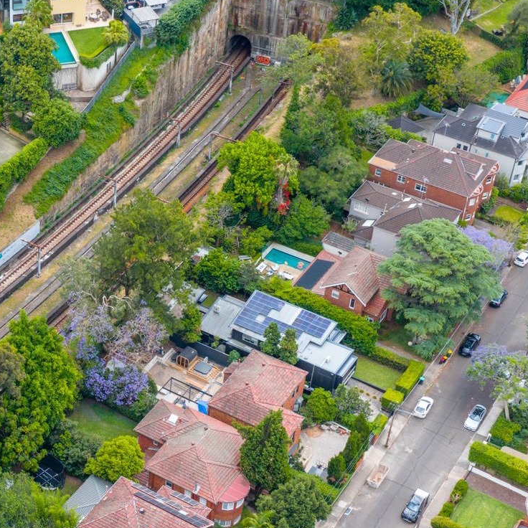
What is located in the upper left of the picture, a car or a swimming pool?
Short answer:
swimming pool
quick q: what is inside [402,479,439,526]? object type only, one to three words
car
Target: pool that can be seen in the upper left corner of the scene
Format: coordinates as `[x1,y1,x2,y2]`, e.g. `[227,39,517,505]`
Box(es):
[48,29,75,66]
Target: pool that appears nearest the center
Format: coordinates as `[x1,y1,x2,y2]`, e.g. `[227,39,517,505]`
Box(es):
[254,237,317,276]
